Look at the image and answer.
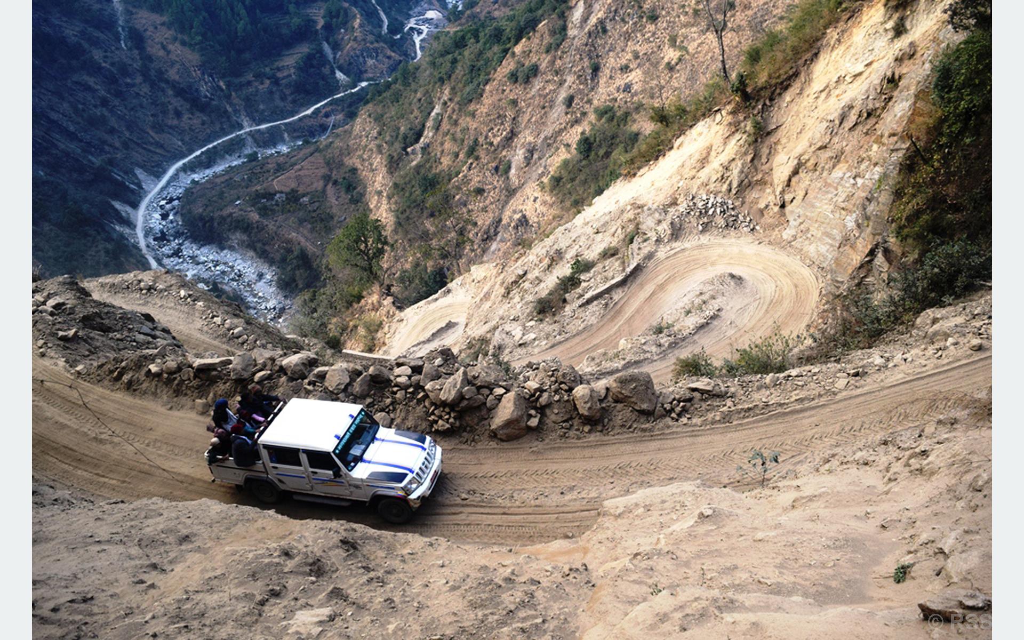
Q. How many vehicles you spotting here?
1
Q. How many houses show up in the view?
zero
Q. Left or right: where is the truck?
left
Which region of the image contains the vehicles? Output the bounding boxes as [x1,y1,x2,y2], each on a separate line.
[206,400,445,524]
